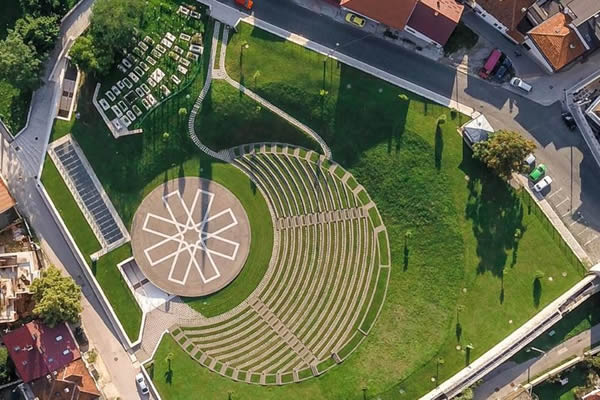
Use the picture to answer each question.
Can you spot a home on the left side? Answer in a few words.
Yes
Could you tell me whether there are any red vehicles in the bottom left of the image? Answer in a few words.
No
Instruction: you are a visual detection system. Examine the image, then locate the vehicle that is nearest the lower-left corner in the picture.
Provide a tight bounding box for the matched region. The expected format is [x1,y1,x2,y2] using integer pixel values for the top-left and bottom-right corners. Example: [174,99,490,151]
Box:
[135,371,152,395]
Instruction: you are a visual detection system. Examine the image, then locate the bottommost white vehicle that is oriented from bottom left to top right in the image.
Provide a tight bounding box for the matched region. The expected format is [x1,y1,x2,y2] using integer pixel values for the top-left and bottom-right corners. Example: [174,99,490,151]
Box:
[530,174,554,193]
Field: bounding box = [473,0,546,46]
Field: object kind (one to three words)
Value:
house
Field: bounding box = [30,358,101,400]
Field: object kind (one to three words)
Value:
house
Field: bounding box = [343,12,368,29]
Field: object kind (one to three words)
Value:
car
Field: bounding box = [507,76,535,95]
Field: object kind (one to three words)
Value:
car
